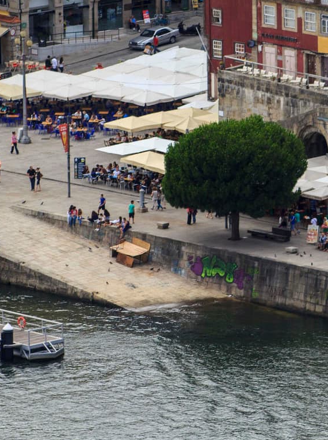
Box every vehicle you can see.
[180,21,203,37]
[128,29,181,50]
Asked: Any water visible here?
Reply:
Yes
